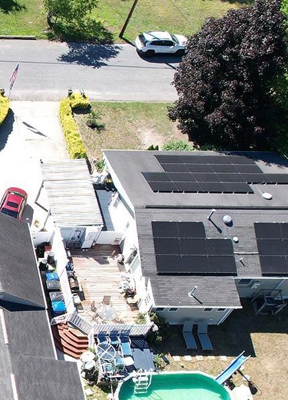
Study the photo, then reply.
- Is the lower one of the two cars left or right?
left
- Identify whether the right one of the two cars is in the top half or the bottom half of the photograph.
top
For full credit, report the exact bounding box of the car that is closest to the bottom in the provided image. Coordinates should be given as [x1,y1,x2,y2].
[0,185,30,219]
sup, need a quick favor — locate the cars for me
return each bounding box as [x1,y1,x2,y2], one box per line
[129,31,192,63]
[0,185,30,219]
